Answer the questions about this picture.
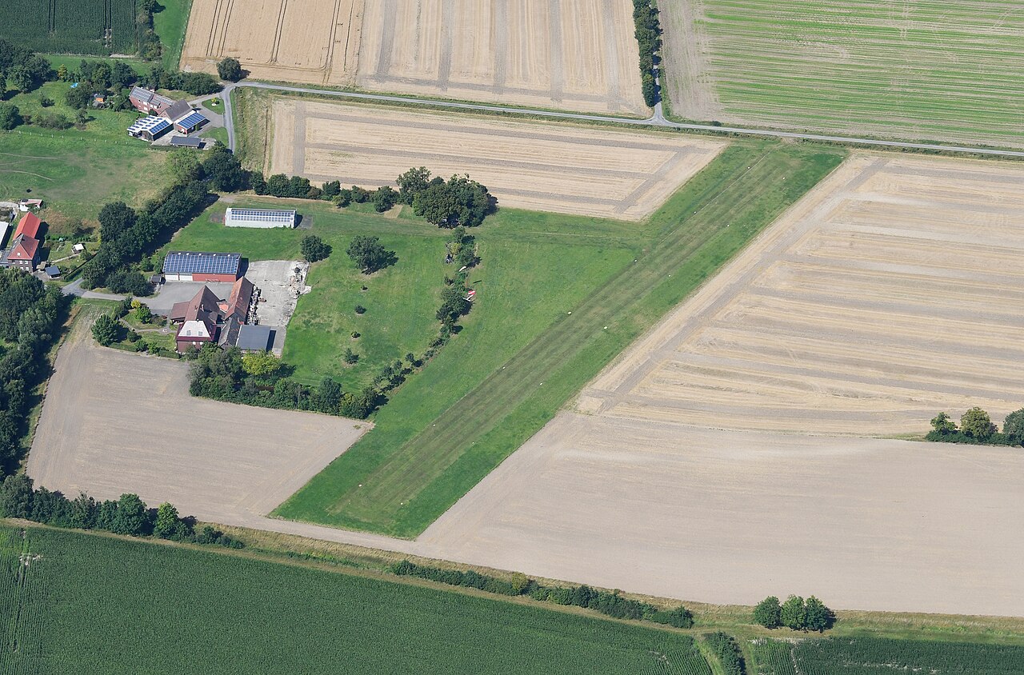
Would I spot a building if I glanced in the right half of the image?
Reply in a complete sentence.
No, no building can be made out in the right half of the image.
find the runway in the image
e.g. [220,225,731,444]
[271,142,848,539]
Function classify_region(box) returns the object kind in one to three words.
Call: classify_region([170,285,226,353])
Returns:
house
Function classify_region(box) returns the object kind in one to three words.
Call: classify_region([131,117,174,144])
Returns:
barn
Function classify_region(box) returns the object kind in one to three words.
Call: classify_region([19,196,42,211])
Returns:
building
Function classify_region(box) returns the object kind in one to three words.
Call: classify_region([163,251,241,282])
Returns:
barn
